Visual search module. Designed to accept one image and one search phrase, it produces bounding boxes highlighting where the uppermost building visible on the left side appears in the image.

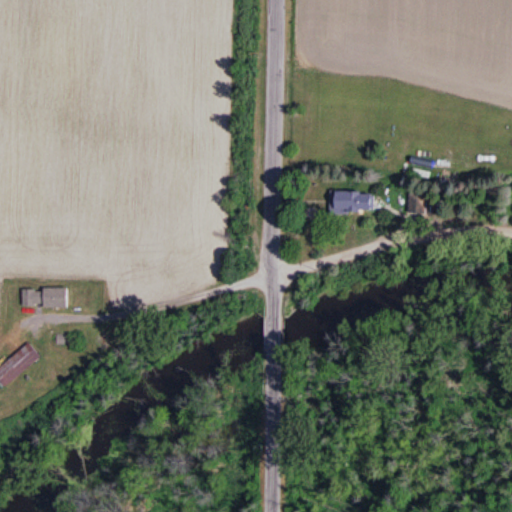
[22,287,69,309]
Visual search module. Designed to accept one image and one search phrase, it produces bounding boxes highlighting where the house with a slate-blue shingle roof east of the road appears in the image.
[331,190,375,214]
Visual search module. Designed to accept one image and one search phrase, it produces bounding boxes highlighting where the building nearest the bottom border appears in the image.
[0,342,40,386]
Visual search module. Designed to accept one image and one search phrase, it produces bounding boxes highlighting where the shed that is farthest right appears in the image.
[408,191,424,214]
